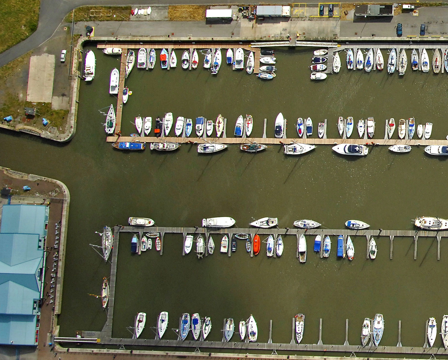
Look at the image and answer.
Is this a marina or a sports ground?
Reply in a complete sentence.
What you see here is a marina.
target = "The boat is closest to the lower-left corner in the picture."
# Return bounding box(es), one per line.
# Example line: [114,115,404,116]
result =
[91,279,110,308]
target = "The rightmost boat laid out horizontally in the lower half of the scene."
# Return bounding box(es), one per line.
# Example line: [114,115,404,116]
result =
[414,216,448,230]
